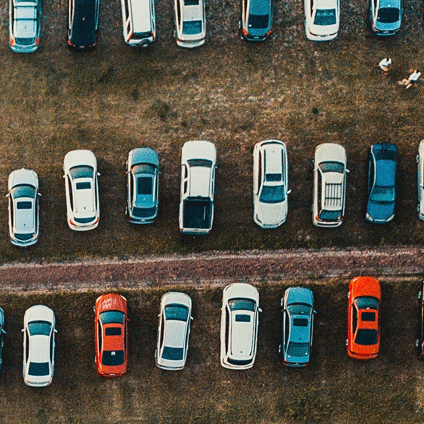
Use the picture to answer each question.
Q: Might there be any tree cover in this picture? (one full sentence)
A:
No, there's no tree cover in this view.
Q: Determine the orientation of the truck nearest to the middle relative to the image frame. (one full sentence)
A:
The truck nearest to the middle has been laid out up and down relative to the frame.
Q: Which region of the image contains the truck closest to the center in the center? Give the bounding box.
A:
[177,140,223,236]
